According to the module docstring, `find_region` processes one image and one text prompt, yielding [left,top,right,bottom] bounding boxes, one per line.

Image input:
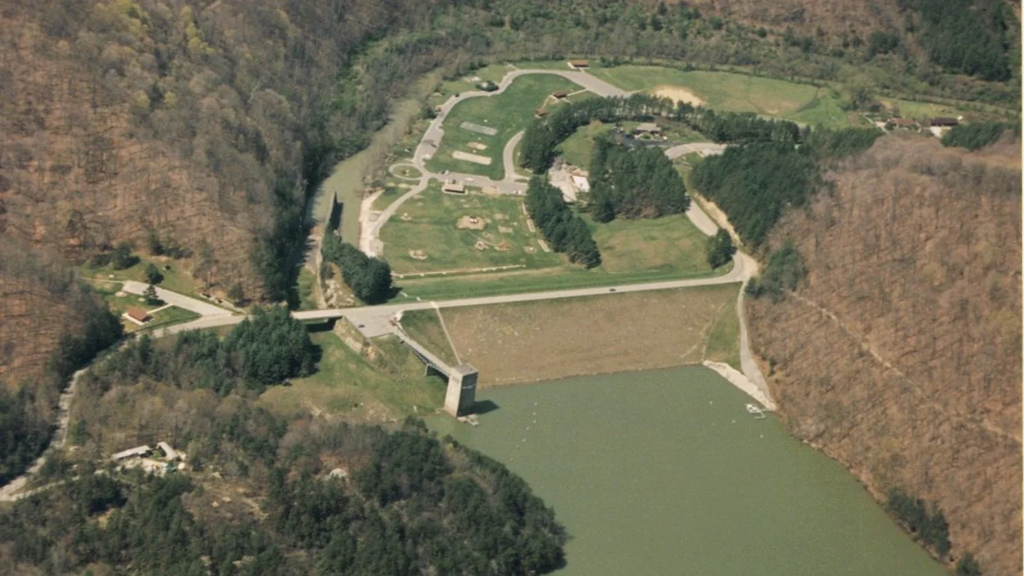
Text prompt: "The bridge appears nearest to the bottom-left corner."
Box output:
[289,307,347,327]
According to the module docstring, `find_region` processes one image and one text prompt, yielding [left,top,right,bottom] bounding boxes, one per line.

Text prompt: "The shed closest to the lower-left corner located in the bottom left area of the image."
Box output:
[108,444,153,462]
